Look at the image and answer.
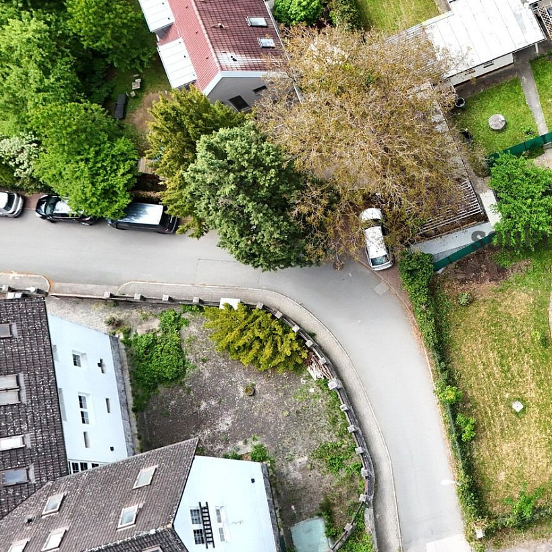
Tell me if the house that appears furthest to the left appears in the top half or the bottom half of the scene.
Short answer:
bottom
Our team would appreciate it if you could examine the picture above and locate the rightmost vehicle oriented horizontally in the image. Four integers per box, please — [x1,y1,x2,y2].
[103,198,179,238]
